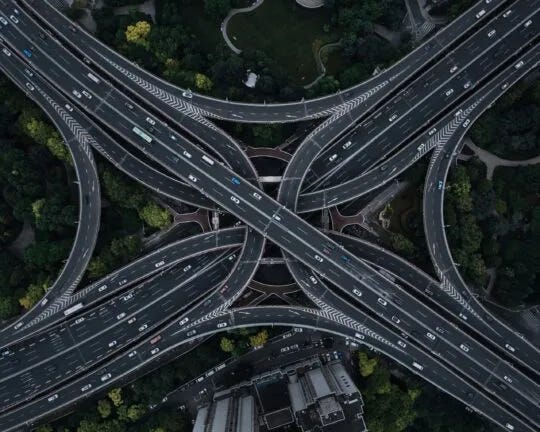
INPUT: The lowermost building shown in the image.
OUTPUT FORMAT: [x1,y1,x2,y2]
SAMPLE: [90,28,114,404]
[190,352,369,432]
